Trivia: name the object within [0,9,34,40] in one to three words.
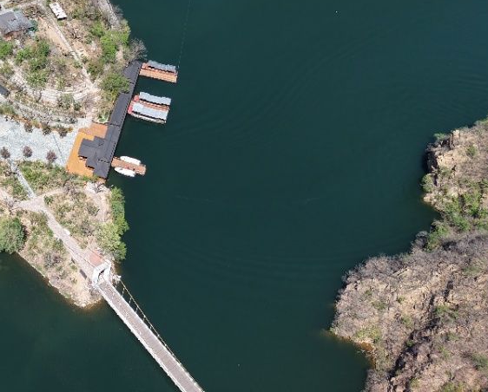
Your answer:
house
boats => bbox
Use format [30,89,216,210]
[143,62,178,76]
[119,156,142,165]
[132,94,172,109]
[113,168,137,178]
[129,105,170,125]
